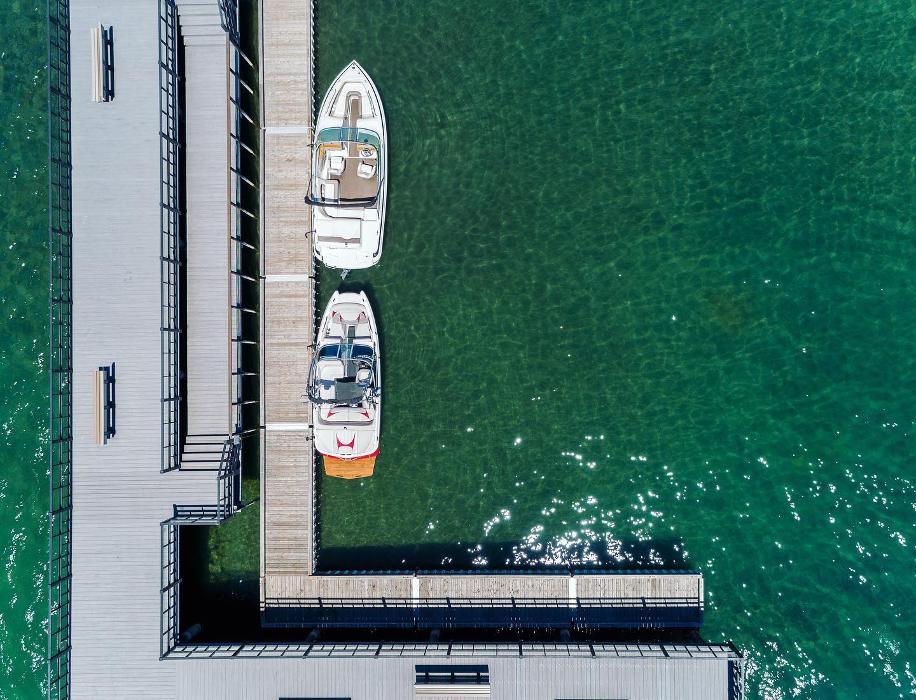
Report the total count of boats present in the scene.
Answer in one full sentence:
In total, 2 boats can be seen.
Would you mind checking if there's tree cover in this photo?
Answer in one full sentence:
No, the scene doesn't show any tree cover.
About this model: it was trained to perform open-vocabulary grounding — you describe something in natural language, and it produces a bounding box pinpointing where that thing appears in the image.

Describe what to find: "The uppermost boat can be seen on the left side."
[303,61,385,281]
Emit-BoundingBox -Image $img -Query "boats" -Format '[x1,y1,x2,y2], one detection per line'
[301,290,382,478]
[303,61,385,281]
